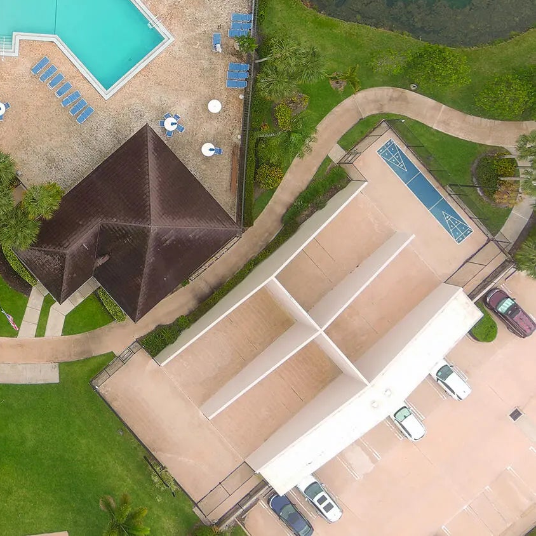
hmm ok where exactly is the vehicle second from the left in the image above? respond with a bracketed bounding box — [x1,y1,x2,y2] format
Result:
[295,474,343,523]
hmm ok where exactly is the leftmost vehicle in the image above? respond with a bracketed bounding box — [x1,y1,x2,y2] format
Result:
[271,493,318,536]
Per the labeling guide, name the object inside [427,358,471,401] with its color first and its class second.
white car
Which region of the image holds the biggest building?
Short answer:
left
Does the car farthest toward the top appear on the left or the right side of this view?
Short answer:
right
